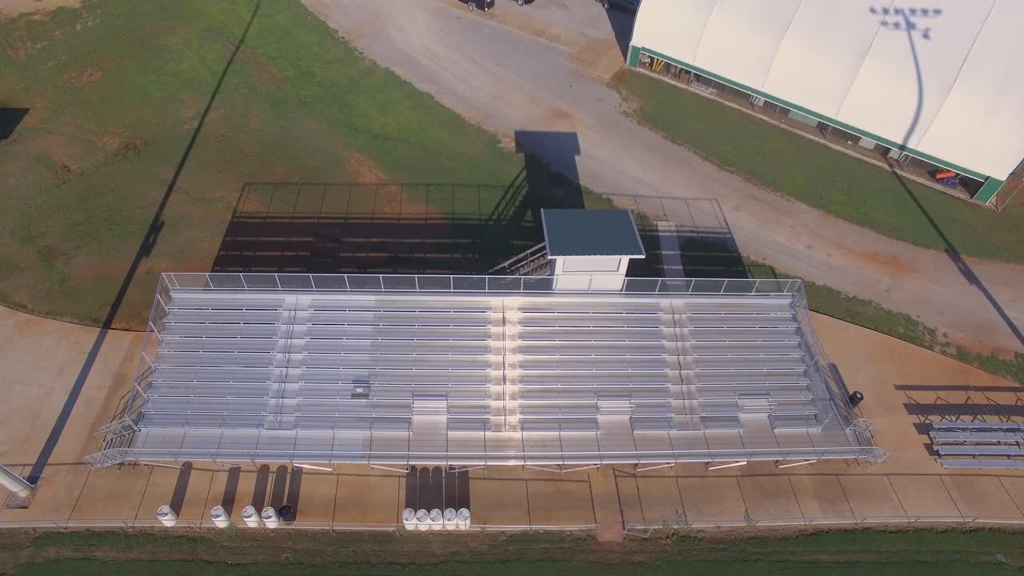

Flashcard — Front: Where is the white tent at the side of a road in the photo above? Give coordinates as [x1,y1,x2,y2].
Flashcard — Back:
[624,0,1024,207]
